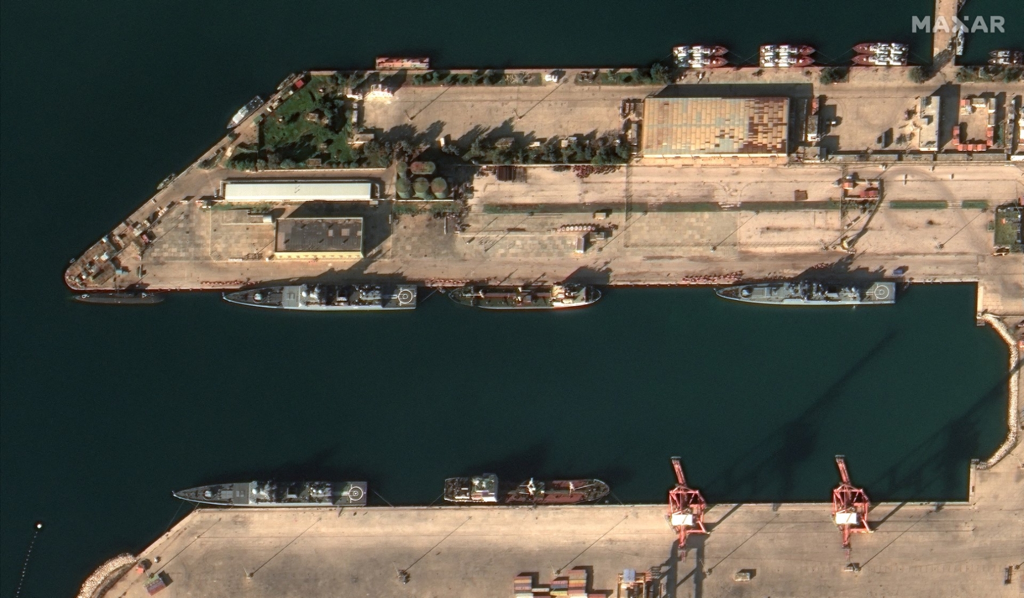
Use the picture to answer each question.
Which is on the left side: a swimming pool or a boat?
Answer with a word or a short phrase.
boat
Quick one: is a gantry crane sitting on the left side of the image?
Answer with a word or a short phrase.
No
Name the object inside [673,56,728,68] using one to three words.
boat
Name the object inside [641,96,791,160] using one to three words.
building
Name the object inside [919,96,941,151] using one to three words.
building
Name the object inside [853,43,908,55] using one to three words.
boat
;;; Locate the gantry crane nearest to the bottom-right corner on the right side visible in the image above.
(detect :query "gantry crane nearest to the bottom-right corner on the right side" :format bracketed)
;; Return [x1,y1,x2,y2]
[833,457,873,565]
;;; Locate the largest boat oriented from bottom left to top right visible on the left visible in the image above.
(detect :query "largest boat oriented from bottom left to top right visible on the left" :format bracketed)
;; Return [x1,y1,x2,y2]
[228,94,267,130]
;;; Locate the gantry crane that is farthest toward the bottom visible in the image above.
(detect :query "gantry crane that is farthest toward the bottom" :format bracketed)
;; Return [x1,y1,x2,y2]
[618,570,652,598]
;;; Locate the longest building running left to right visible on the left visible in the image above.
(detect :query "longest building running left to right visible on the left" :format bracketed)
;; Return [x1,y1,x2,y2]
[225,184,372,200]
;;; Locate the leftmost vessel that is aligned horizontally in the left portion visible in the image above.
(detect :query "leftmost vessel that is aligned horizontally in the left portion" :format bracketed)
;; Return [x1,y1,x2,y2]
[76,290,162,303]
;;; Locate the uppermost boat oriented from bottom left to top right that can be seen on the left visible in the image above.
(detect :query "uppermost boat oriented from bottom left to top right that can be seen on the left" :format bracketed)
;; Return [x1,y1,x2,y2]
[275,71,300,92]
